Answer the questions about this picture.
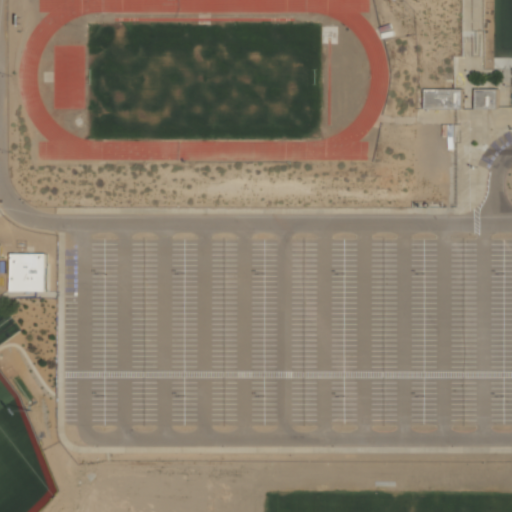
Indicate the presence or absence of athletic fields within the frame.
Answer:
Yes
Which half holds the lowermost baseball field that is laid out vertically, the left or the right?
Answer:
left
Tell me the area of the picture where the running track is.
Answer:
top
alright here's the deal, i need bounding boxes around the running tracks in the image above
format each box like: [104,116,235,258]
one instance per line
[22,0,390,160]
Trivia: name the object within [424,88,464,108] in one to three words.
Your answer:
building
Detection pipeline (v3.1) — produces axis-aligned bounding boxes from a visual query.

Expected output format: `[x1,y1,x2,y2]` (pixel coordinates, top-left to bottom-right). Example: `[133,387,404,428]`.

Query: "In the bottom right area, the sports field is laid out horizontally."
[265,490,512,512]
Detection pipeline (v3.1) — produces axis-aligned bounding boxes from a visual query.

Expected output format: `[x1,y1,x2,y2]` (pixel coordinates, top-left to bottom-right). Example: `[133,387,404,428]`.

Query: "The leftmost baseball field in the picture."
[0,368,58,512]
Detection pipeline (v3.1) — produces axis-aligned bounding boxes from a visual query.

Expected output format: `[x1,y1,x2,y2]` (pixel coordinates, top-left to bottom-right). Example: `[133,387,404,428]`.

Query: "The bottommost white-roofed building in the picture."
[10,254,49,292]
